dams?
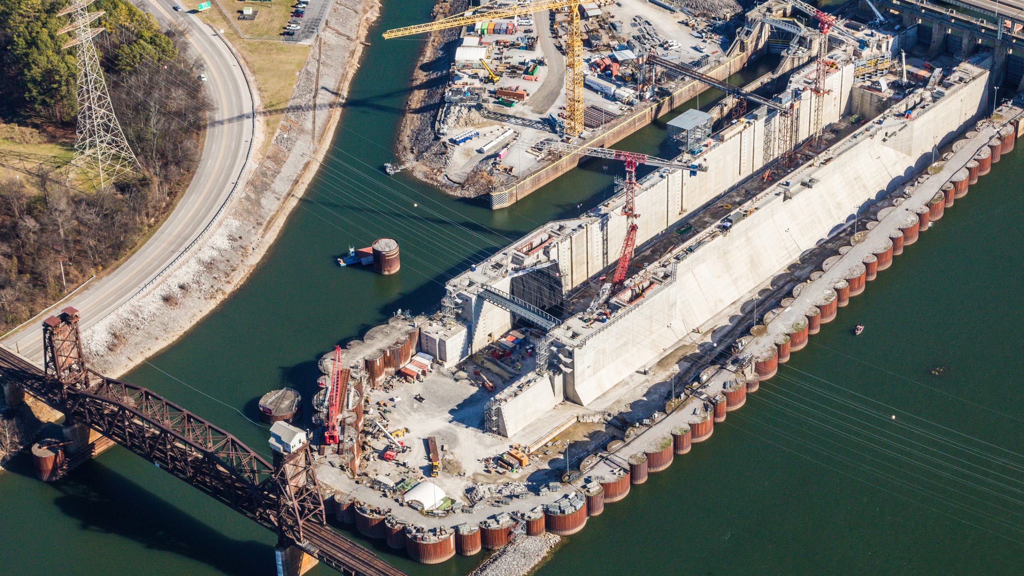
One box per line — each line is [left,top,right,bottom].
[864,0,1024,110]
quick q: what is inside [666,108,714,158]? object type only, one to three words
building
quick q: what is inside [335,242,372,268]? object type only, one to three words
boat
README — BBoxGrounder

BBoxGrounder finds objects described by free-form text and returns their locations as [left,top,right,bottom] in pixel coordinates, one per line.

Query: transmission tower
[52,0,142,194]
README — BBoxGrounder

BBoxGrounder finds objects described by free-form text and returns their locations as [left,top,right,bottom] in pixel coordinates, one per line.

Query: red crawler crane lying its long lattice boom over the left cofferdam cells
[320,344,344,444]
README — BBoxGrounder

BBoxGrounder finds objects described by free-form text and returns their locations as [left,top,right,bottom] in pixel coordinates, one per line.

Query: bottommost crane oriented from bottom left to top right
[581,224,633,302]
